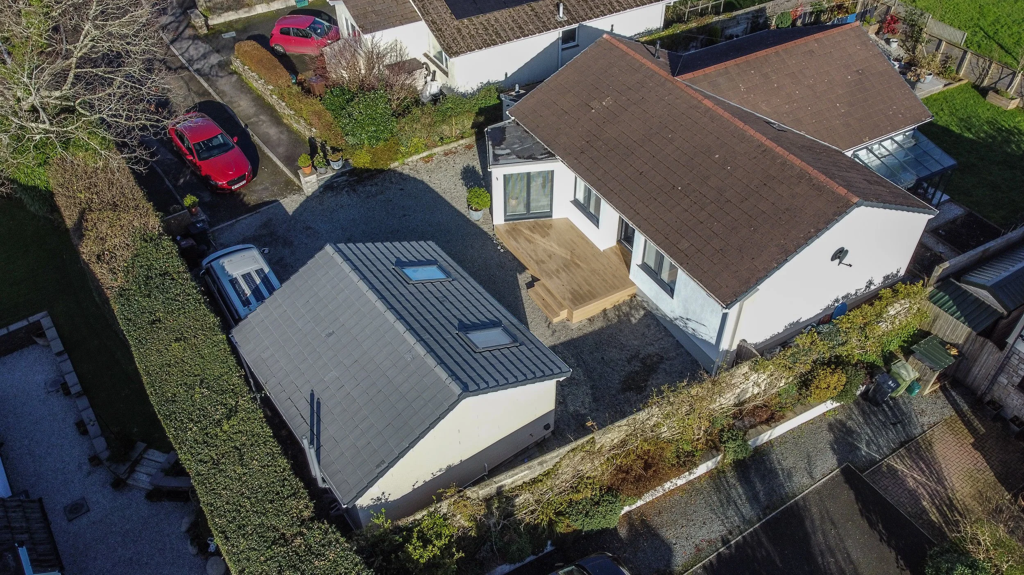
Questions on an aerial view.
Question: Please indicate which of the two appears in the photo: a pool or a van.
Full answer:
Visible in the photo is a van.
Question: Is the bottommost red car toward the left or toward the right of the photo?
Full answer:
You can find the bottommost red car on the left side of the picture.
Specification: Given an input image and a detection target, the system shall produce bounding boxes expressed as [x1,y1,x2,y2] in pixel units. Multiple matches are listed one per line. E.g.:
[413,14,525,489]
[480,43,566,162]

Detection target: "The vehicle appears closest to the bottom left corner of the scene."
[192,252,281,331]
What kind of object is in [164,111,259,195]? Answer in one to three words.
car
